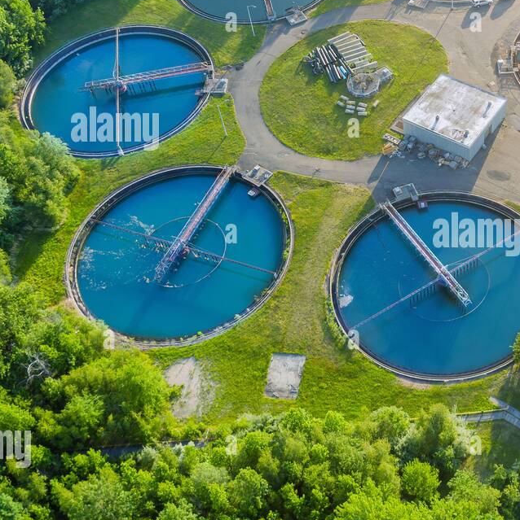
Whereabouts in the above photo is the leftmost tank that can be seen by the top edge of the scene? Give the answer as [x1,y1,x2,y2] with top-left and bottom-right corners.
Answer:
[19,25,217,161]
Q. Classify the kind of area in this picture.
industrial area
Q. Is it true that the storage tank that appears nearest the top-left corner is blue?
Yes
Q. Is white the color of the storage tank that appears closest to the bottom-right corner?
No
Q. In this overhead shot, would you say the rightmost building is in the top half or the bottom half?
top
